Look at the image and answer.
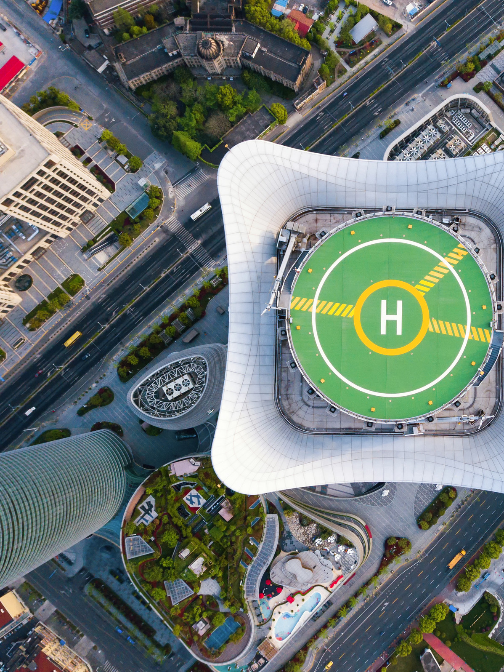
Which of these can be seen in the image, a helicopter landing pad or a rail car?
helicopter landing pad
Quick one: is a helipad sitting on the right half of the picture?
Yes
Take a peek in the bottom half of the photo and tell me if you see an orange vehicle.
Yes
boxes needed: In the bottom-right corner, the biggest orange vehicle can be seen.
[447,549,466,569]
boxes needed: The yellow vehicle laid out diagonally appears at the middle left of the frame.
[63,331,82,347]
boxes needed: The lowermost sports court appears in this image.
[204,615,239,649]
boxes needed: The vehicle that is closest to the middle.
[190,202,212,220]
